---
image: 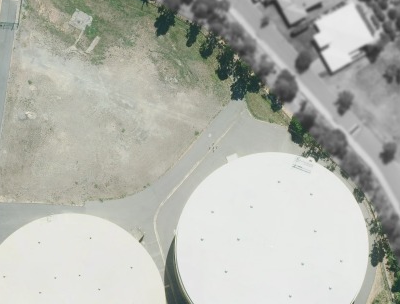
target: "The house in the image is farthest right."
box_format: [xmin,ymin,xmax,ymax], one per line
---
[314,2,375,74]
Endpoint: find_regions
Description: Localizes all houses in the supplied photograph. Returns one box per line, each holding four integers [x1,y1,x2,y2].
[278,0,320,26]
[314,2,375,74]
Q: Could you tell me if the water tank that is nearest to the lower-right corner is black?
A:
No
